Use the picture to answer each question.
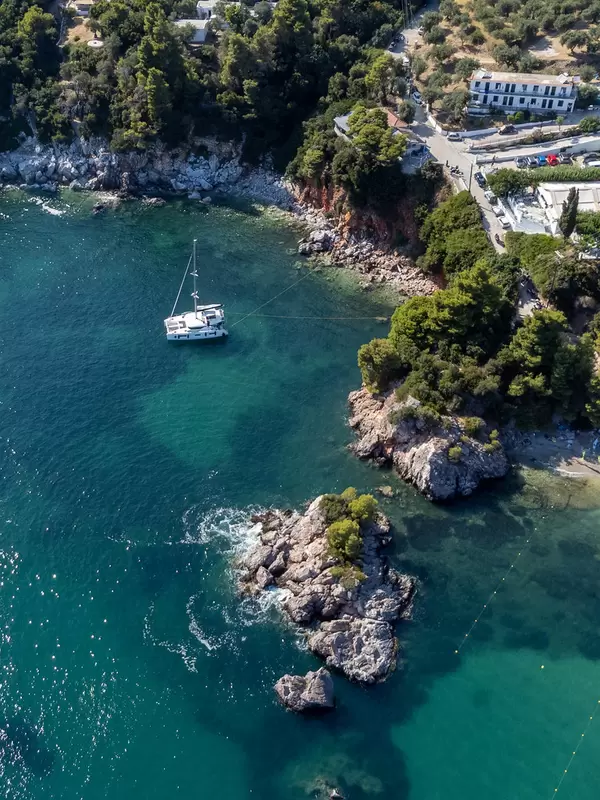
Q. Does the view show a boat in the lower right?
No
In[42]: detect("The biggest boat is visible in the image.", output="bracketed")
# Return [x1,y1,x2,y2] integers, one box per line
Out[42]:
[166,237,229,338]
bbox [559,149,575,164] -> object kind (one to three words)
car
